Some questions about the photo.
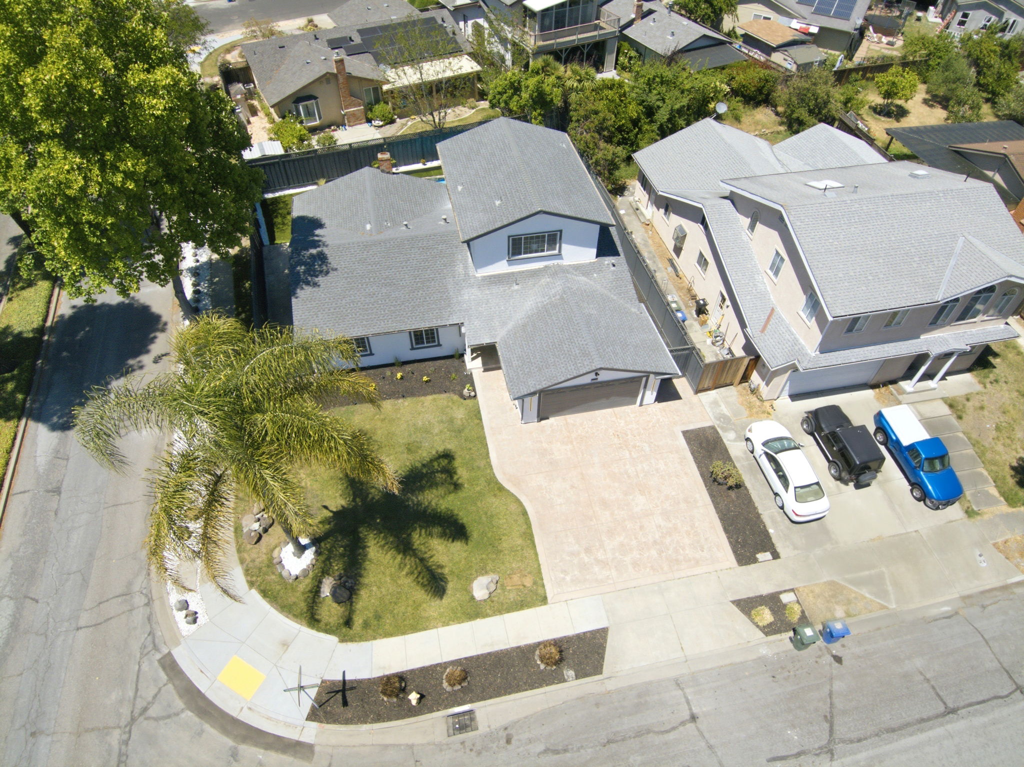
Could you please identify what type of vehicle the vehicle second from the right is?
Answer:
automobile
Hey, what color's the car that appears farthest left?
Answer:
white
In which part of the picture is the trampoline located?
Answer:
top right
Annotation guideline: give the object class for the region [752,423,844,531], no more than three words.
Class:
car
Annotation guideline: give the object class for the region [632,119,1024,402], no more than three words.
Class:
house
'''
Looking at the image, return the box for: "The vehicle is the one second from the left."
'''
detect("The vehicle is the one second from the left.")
[803,403,899,484]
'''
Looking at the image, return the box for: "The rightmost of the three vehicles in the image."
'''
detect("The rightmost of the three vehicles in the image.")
[876,402,977,513]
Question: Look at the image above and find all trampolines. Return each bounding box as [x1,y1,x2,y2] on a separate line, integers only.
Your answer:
[862,0,919,33]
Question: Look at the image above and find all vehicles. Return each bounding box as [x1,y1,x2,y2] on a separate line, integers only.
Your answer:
[803,403,899,484]
[876,402,977,513]
[752,423,844,531]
